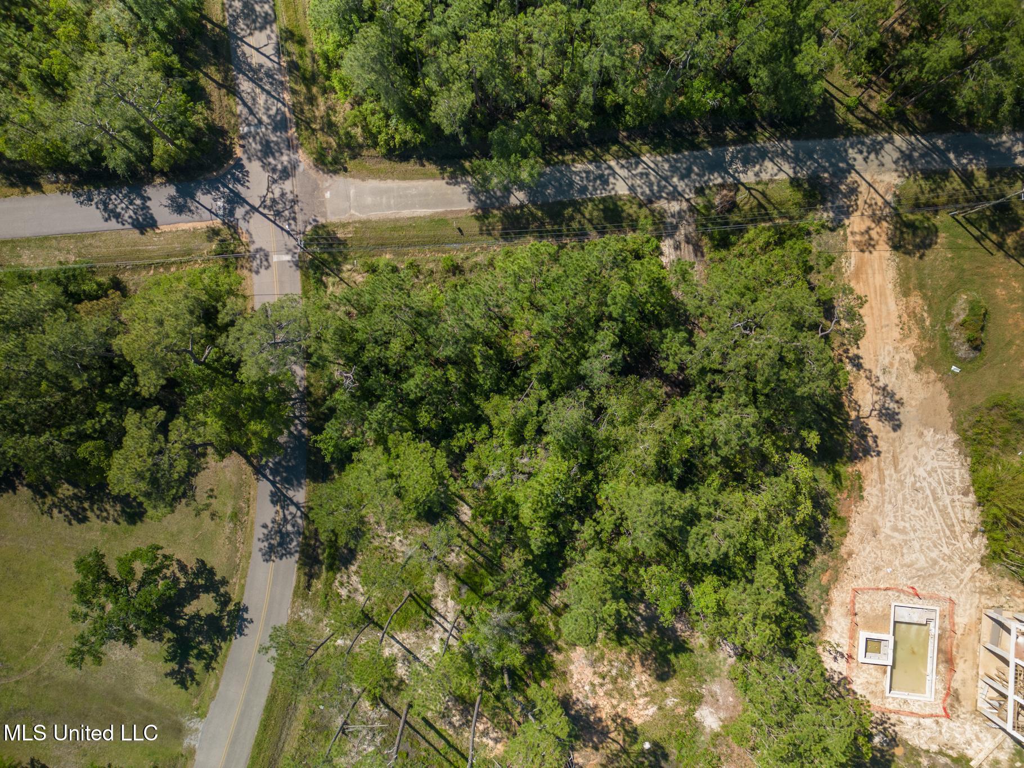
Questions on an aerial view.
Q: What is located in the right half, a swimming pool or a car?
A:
swimming pool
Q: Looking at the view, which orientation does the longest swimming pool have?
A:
from top to bottom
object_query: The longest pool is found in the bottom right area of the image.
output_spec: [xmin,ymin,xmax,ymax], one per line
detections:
[884,602,942,702]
